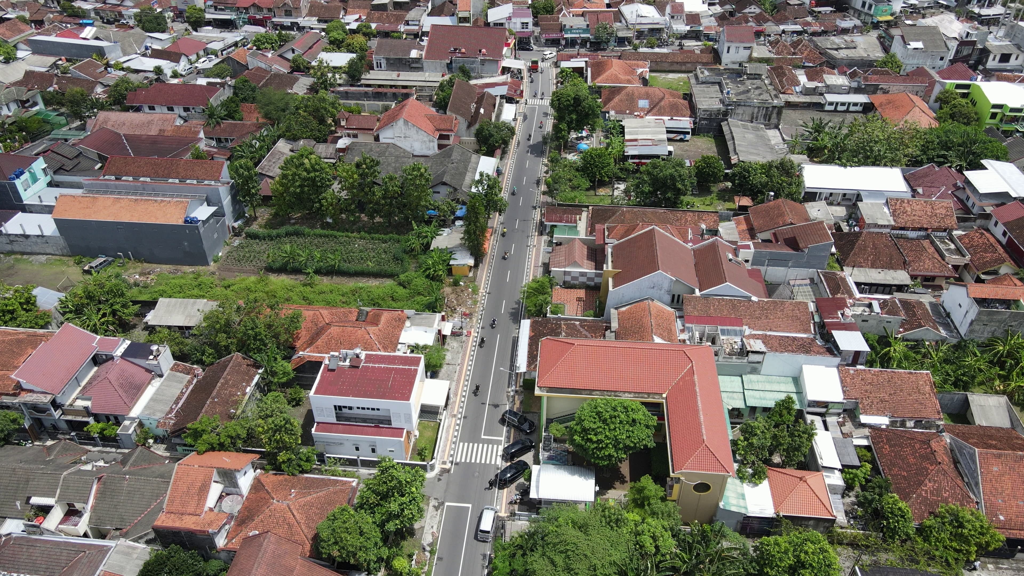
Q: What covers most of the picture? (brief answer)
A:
buildings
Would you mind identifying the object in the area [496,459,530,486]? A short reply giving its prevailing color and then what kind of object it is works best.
black car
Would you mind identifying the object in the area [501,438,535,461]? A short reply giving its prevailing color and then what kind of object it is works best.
black car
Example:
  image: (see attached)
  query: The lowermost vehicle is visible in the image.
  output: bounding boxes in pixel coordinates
[477,505,498,540]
